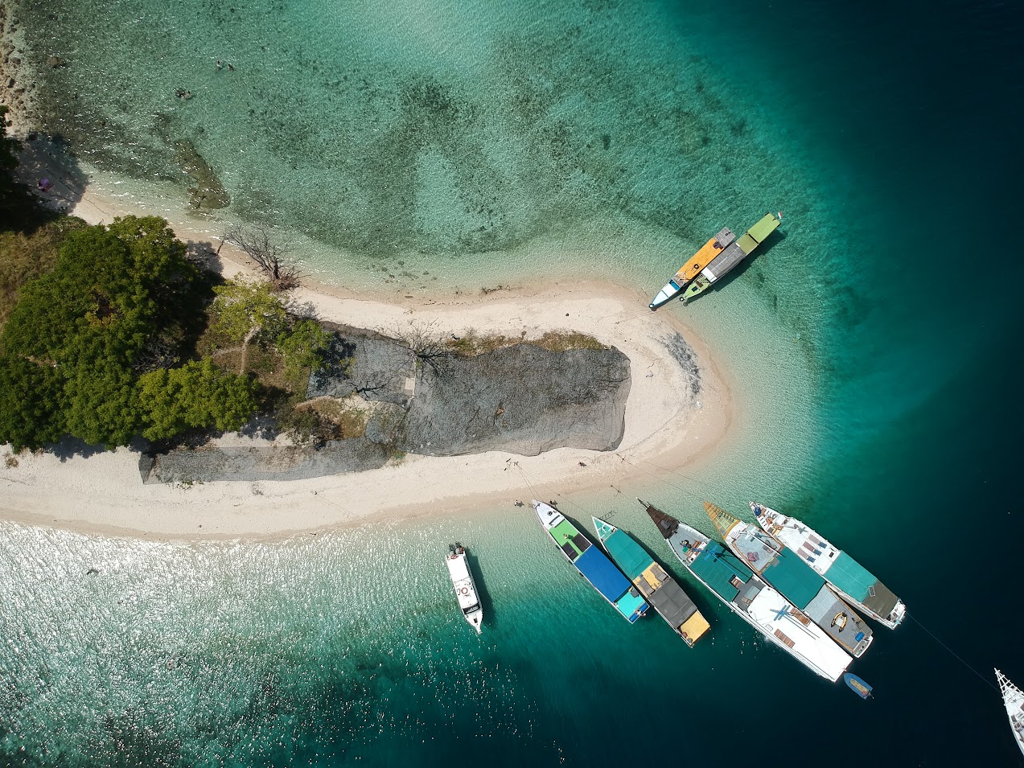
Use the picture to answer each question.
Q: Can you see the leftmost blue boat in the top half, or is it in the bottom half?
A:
bottom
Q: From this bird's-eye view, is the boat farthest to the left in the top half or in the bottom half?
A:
bottom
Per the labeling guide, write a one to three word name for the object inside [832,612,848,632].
boat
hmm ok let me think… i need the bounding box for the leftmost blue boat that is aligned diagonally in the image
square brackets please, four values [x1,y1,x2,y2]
[532,500,650,624]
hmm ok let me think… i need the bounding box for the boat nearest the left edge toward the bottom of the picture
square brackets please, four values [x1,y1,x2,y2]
[446,538,483,633]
